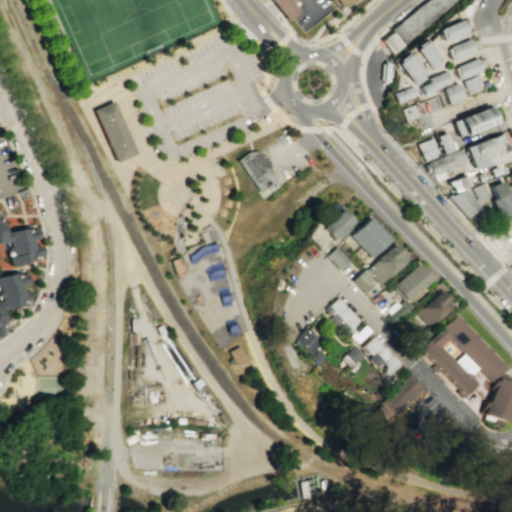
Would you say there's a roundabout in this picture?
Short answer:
Yes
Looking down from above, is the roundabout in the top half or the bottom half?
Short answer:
top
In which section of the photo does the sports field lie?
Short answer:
top left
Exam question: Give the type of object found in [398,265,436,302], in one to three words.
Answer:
house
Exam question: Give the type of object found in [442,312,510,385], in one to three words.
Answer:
building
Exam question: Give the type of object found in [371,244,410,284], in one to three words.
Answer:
house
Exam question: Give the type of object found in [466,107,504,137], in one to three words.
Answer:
building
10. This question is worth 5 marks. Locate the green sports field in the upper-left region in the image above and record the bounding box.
[52,0,224,83]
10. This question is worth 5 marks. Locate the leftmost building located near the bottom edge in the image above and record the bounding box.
[296,474,330,500]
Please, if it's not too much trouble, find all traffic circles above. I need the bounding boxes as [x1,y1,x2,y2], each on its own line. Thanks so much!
[270,43,356,127]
